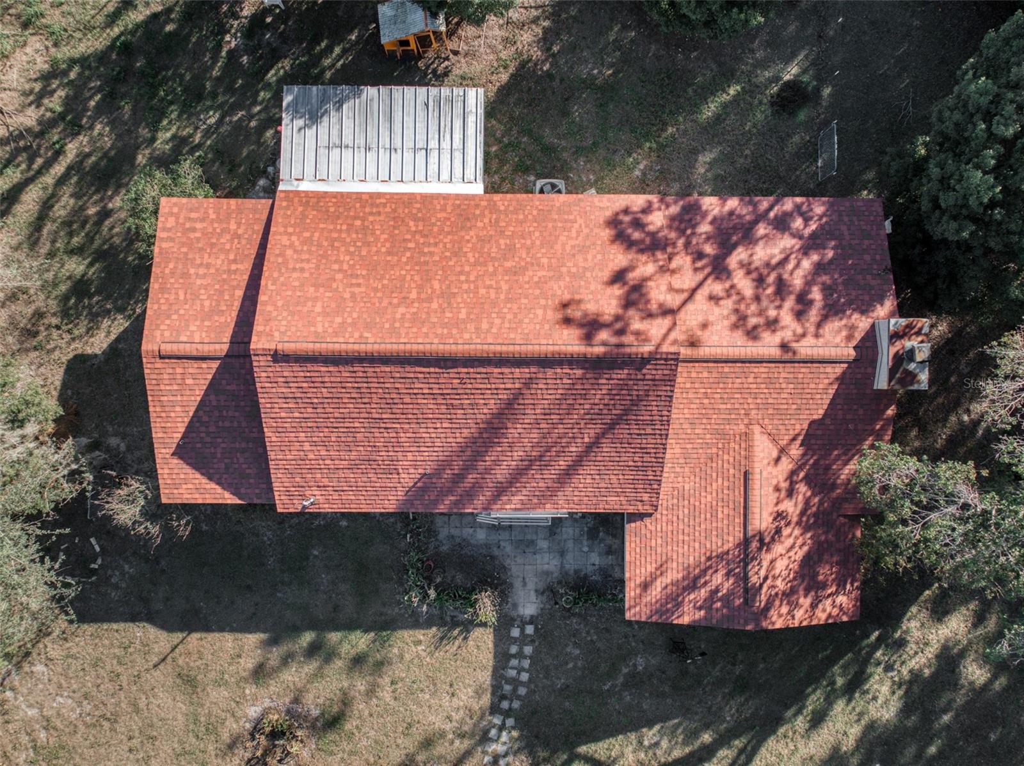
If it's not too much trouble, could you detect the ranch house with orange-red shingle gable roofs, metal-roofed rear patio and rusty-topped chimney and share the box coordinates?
[142,85,929,630]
